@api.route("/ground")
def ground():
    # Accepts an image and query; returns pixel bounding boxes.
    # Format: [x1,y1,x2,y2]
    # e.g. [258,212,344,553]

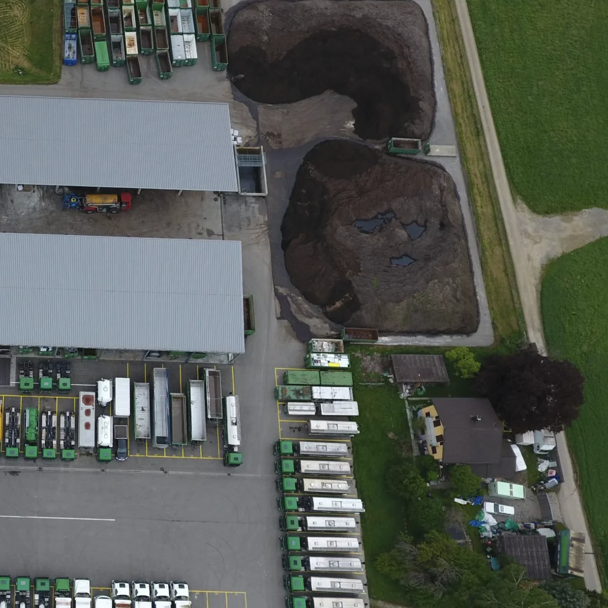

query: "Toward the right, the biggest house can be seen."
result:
[417,398,516,479]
